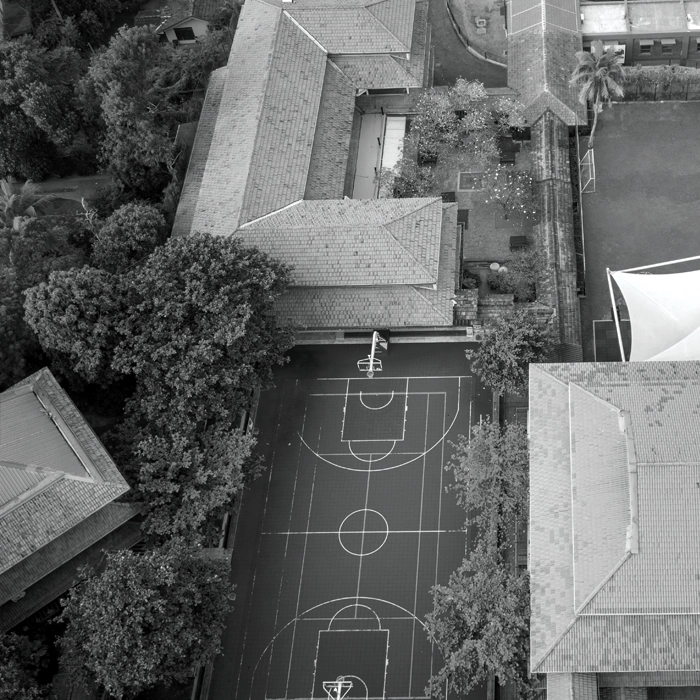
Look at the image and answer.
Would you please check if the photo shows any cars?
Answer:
No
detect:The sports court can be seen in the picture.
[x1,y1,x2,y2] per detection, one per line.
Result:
[211,342,496,700]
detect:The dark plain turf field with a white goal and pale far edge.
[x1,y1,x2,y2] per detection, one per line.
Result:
[579,99,700,360]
